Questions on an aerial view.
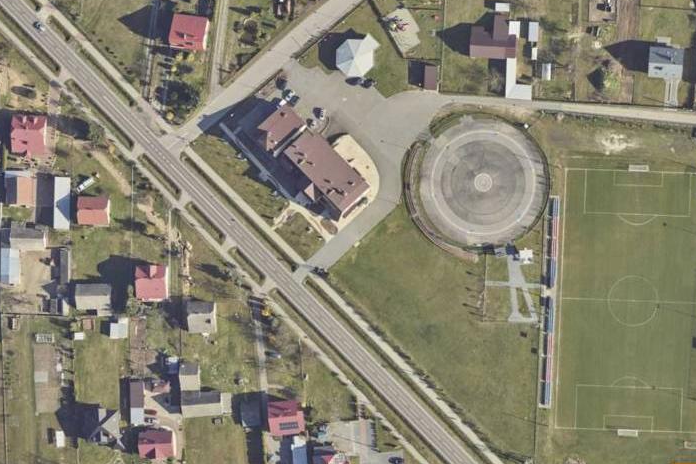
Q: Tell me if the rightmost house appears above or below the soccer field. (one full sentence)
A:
The rightmost house is above the soccer field.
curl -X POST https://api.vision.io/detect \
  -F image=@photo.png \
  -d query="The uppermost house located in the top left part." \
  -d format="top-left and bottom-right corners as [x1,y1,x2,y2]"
[168,12,211,53]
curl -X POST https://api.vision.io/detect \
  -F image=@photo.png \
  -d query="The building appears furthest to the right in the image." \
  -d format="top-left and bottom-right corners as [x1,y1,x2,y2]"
[647,46,684,80]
